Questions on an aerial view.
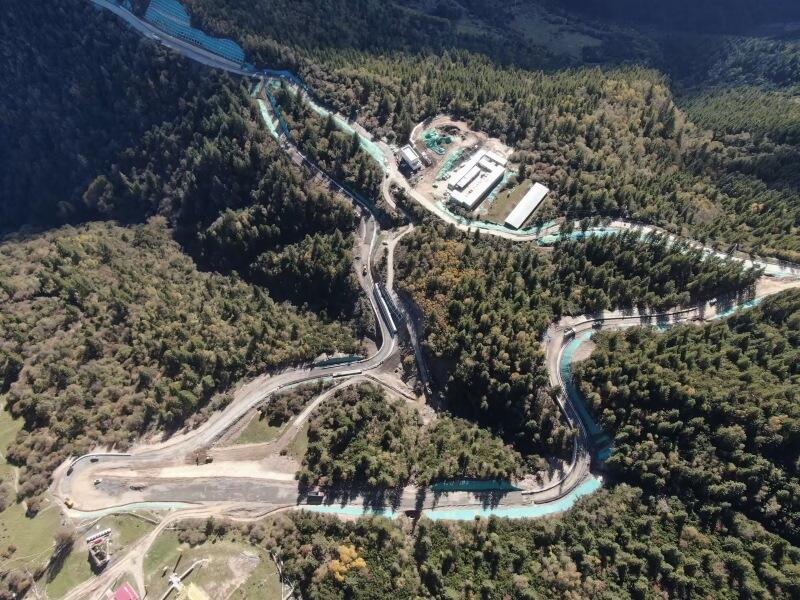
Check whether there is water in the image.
No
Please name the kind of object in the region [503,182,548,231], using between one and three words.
shed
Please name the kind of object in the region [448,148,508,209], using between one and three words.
building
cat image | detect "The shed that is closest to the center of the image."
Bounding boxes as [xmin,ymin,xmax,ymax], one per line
[370,284,398,334]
